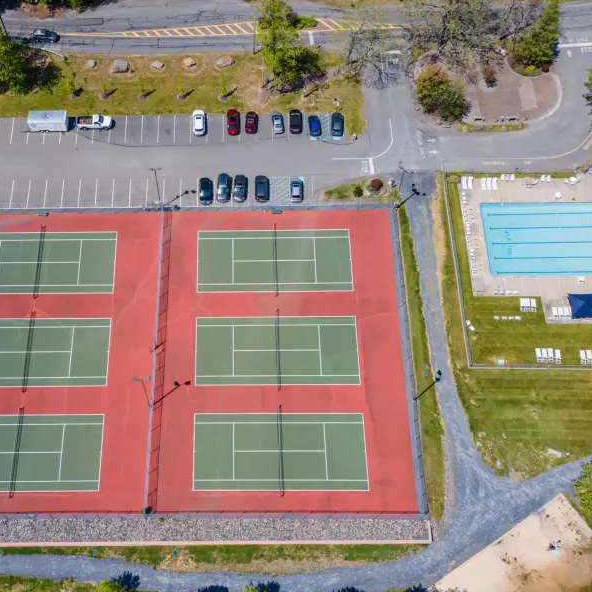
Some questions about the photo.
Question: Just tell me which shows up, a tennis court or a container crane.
tennis court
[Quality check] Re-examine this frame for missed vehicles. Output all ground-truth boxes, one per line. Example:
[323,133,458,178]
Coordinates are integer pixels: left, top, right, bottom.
[199,178,212,204]
[76,114,111,129]
[192,111,205,134]
[290,110,302,134]
[291,176,303,201]
[255,174,269,201]
[331,112,344,137]
[217,173,231,200]
[234,175,247,200]
[245,111,257,135]
[271,111,285,135]
[30,27,58,42]
[308,114,322,137]
[226,110,239,134]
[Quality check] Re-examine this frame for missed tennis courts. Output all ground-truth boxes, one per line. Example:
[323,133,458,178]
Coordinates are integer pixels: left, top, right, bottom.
[195,309,361,389]
[0,310,111,392]
[0,407,104,498]
[197,221,353,297]
[193,405,369,496]
[0,224,117,298]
